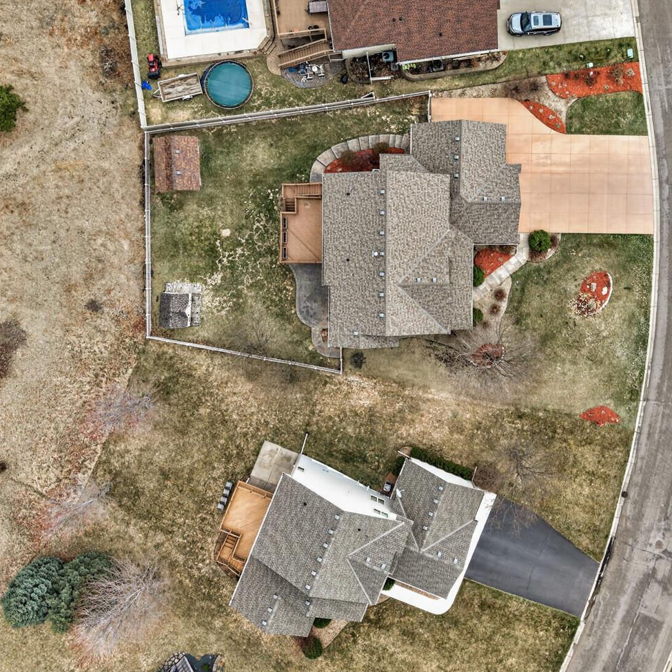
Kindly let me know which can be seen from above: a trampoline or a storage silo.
trampoline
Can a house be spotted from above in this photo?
Yes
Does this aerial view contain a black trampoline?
No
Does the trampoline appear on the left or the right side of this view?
left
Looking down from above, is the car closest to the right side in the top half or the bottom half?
top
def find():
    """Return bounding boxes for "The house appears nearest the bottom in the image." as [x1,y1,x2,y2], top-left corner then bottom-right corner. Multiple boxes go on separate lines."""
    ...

[229,434,485,636]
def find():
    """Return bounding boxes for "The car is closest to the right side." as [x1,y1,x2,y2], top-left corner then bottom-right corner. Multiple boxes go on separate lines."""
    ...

[507,8,563,37]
